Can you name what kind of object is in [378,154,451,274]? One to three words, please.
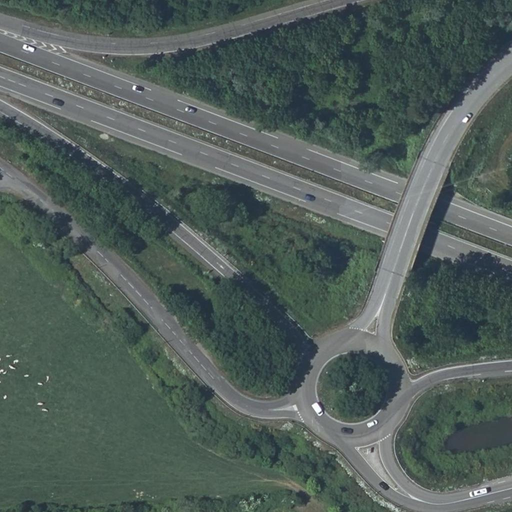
bridge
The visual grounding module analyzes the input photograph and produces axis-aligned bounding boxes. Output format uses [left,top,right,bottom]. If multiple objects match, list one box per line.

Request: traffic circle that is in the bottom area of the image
[297,314,413,464]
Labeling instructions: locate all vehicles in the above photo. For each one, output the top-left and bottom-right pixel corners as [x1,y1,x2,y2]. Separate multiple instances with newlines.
[304,194,316,201]
[23,45,35,52]
[342,428,354,434]
[52,98,64,106]
[366,420,378,428]
[132,85,144,92]
[471,488,489,497]
[313,402,324,415]
[184,106,196,114]
[379,482,390,491]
